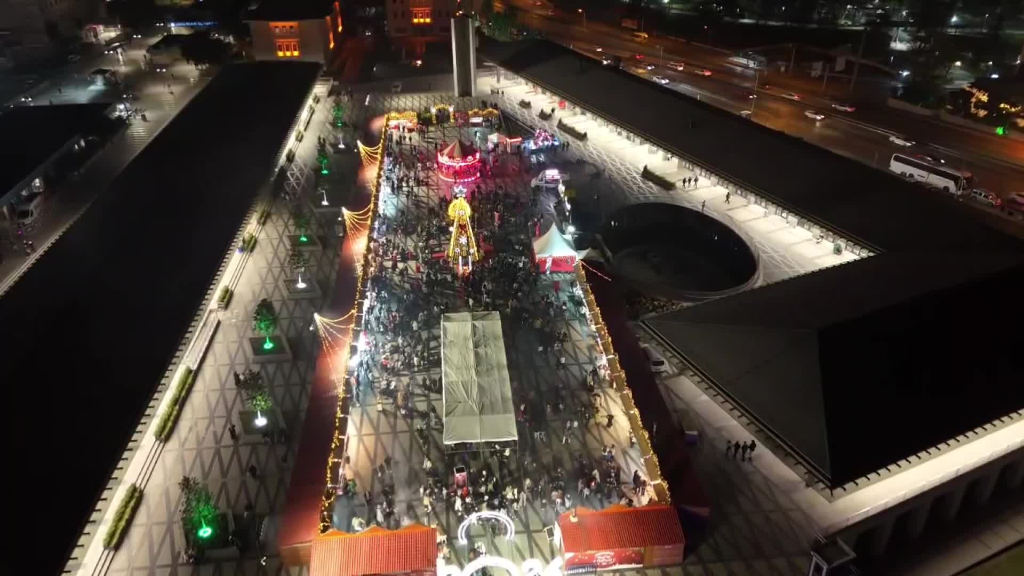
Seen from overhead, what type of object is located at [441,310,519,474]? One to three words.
tent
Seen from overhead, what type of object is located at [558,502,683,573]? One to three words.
shed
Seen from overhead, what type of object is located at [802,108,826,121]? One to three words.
vehicle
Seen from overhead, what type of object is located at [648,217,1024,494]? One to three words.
building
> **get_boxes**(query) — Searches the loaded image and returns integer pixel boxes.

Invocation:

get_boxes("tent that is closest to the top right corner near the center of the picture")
[574,237,606,269]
